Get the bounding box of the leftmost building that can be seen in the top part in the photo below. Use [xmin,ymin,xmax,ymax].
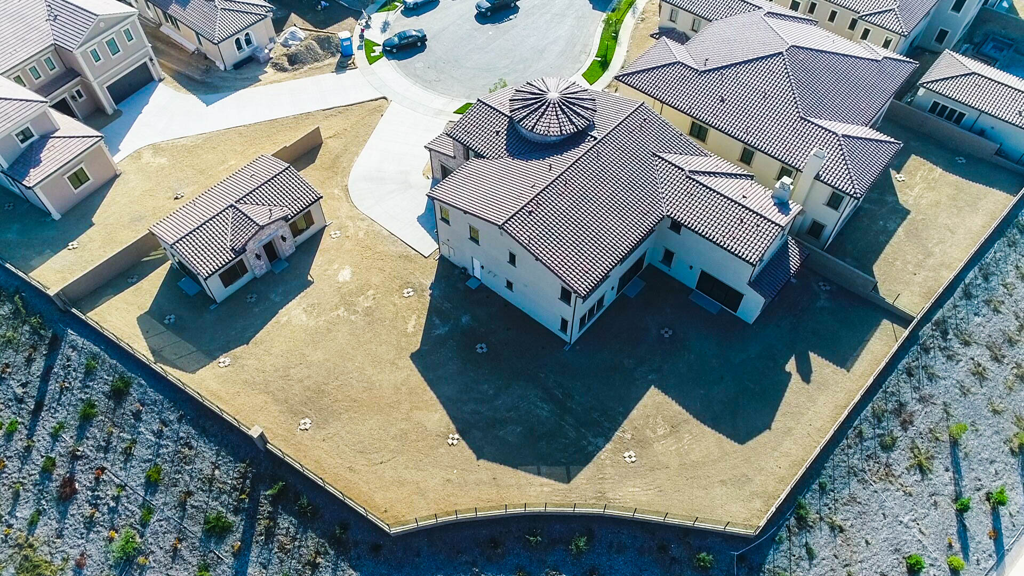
[0,0,164,221]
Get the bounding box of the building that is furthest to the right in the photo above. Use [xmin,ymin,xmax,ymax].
[910,48,1024,163]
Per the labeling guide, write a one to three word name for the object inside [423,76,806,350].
house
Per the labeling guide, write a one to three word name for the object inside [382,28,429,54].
car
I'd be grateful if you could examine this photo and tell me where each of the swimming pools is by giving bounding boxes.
[950,24,1024,79]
